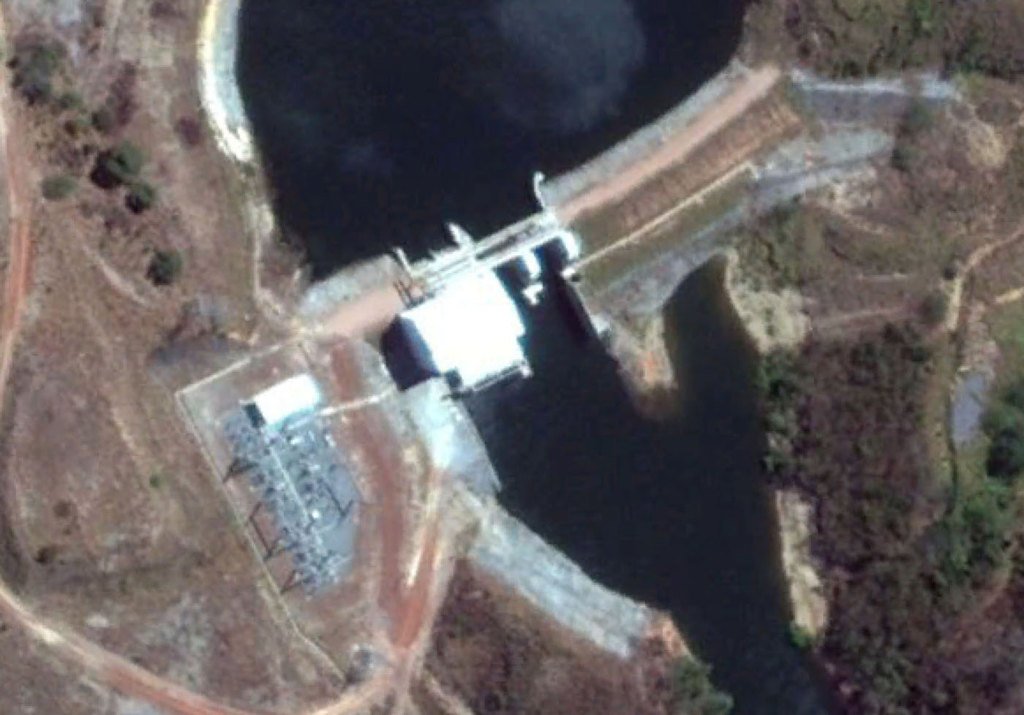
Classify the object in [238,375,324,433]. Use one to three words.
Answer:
building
